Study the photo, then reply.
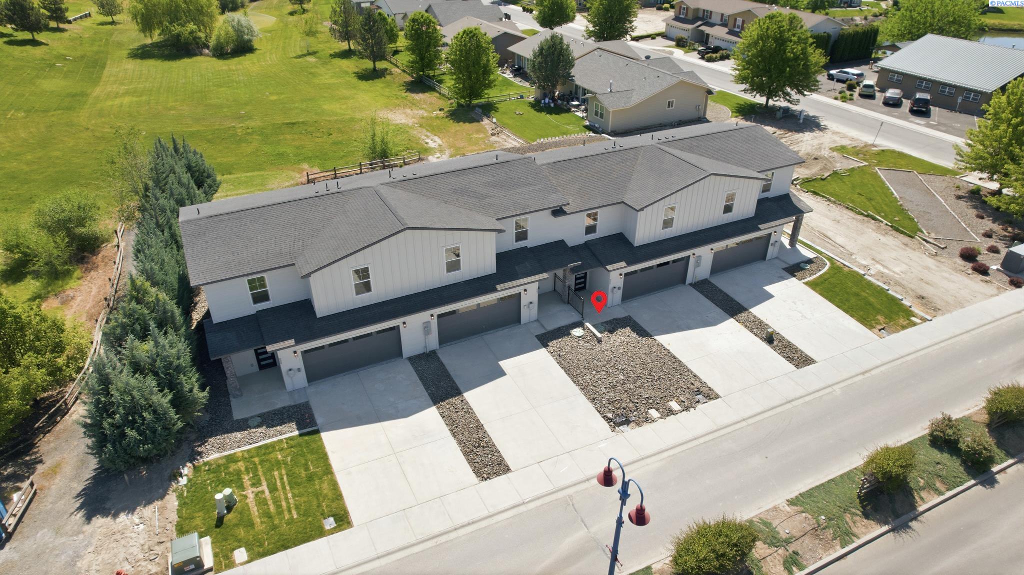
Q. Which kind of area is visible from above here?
residential area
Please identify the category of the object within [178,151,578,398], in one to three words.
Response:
house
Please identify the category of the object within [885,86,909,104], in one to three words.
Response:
car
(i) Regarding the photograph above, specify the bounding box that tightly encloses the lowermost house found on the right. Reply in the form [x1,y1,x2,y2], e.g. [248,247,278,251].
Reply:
[525,120,816,308]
